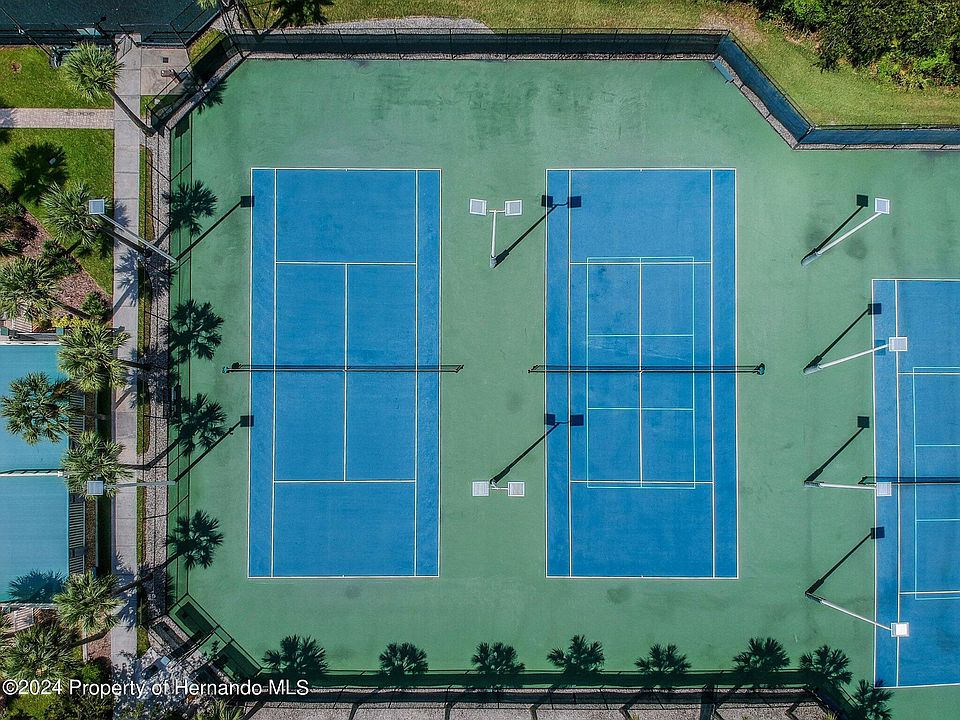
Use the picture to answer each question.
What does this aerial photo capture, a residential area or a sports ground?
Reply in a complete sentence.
It's a sports ground.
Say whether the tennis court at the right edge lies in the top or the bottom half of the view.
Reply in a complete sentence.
Seen from above, the tennis court at the right edge lies in the bottom half of the view.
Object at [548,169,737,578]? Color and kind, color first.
blue tennis court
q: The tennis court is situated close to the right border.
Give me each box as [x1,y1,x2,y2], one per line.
[873,278,960,688]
